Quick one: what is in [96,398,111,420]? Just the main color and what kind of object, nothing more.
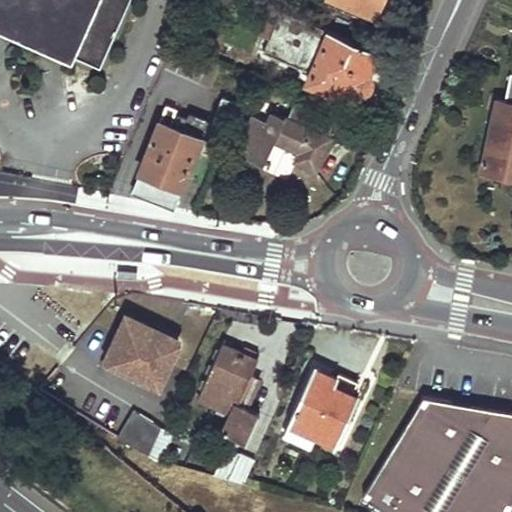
white car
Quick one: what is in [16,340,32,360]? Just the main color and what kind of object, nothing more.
gray car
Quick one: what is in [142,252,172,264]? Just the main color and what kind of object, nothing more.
white vehicle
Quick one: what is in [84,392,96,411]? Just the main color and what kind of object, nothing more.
gray vehicle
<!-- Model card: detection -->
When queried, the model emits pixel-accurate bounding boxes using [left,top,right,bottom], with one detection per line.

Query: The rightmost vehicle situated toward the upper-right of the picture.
[406,111,420,132]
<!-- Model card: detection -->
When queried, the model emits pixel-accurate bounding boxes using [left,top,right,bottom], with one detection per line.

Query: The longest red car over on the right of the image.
[324,154,336,173]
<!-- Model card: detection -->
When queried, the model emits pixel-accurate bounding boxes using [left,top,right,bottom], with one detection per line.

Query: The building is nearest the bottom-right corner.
[357,402,512,512]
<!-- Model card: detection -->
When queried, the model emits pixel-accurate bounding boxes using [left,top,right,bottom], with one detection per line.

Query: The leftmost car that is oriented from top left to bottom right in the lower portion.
[56,322,76,340]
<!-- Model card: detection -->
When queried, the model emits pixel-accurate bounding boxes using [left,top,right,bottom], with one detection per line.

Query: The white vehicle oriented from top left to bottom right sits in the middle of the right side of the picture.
[376,220,398,240]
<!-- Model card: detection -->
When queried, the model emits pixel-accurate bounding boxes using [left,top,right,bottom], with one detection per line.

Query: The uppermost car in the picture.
[146,56,160,77]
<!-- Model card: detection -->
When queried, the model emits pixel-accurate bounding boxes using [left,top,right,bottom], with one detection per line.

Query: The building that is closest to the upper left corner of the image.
[0,0,130,69]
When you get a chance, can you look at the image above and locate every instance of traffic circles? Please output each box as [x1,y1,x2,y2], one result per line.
[284,0,471,326]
